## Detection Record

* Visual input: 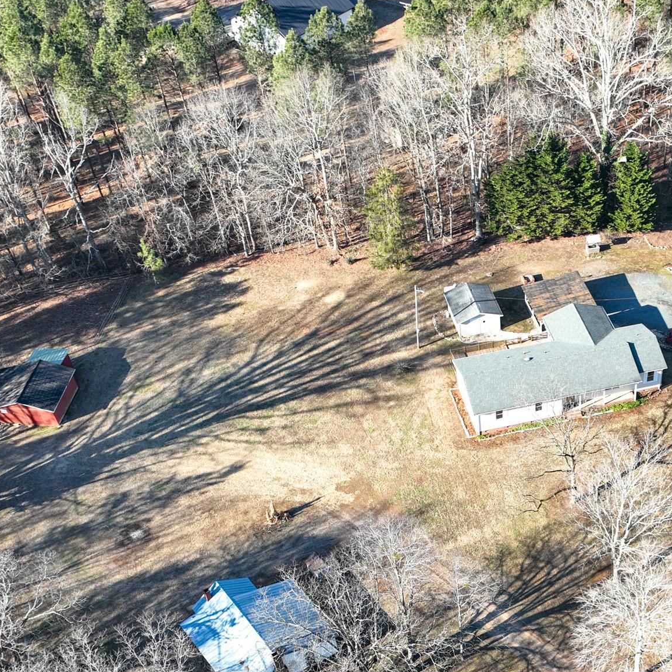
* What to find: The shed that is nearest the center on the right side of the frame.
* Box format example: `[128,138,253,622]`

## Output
[445,282,503,343]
